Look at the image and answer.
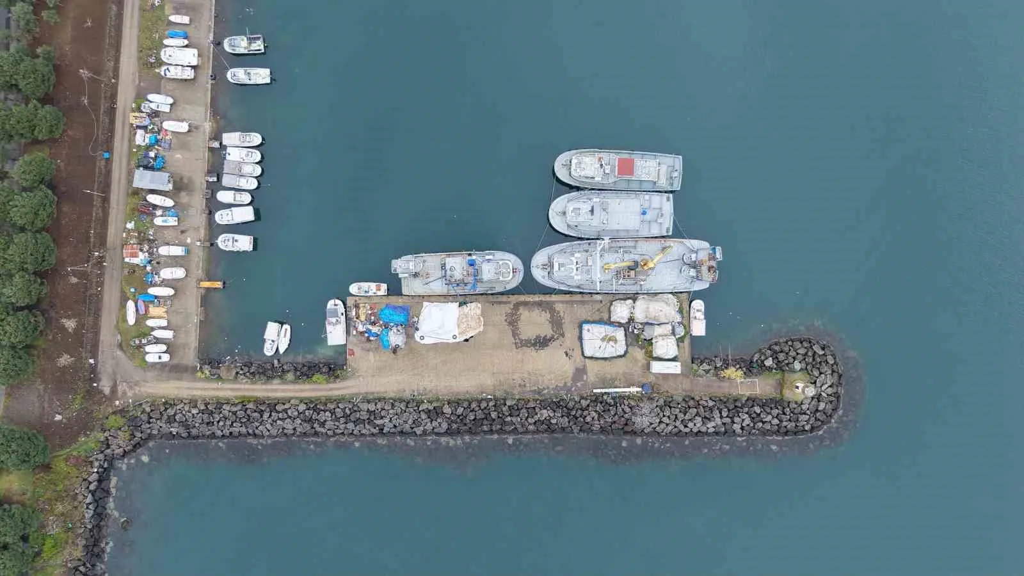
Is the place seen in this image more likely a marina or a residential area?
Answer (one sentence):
The picture captures a marina.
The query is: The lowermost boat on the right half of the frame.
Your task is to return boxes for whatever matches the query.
[691,300,706,336]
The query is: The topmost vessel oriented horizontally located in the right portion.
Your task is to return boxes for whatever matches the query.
[555,149,683,191]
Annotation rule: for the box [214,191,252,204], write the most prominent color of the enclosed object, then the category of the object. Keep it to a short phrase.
white boat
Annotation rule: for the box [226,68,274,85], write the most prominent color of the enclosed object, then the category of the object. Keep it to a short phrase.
white boat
